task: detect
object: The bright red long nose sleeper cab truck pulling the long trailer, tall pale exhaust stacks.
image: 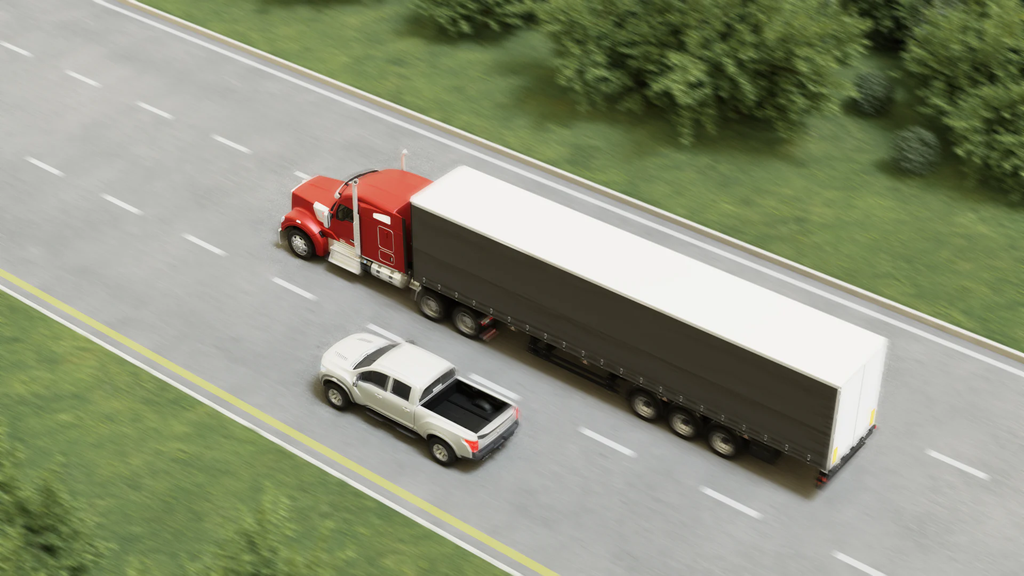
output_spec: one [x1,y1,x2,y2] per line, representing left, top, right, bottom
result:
[279,147,499,342]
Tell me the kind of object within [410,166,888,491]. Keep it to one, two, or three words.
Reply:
trailer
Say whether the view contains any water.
No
